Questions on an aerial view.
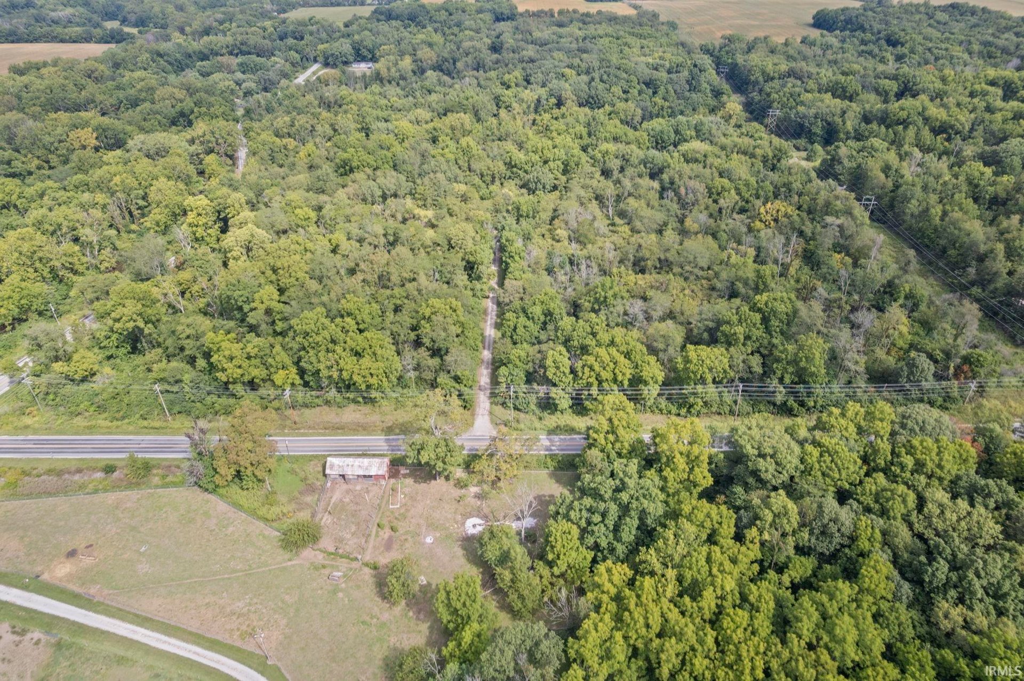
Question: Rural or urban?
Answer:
rural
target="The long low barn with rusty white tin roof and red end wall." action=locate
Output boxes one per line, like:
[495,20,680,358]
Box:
[324,455,390,487]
